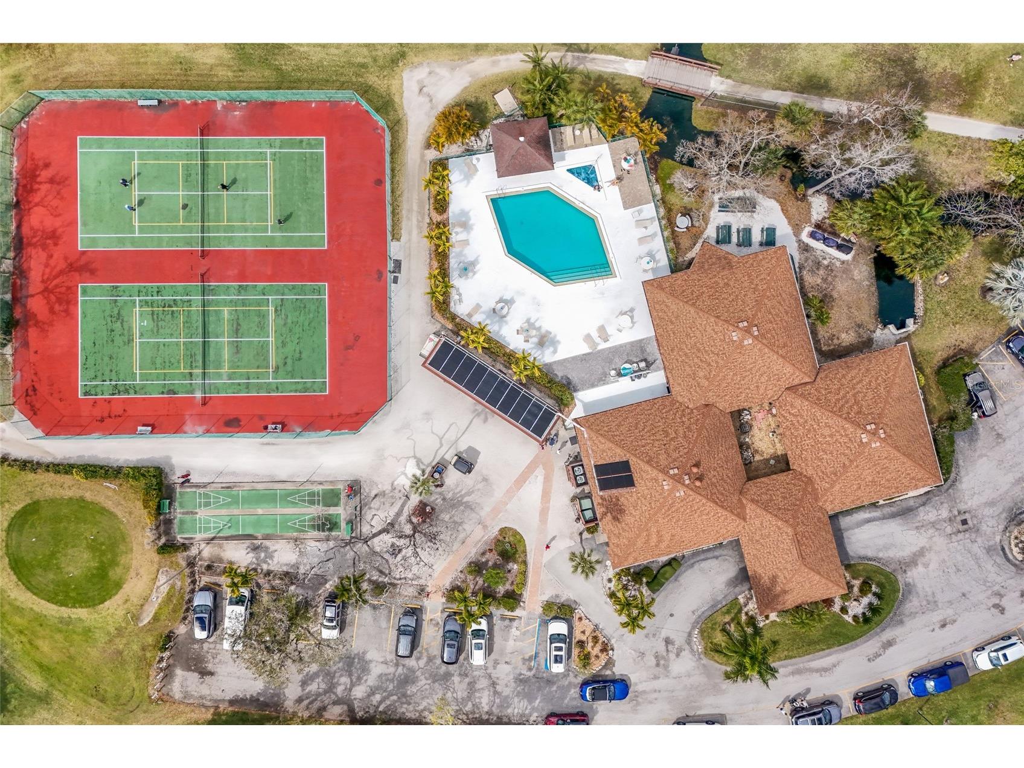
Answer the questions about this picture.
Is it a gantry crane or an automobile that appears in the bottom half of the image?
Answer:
automobile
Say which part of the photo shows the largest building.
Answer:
right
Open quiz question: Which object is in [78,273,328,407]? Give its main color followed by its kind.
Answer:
green tennis court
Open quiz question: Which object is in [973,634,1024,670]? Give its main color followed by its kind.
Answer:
white car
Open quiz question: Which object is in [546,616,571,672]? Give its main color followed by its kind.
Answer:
white car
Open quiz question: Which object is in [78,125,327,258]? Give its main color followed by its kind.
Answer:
green tennis court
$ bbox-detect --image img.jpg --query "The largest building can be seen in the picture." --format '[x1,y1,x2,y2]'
[558,241,944,616]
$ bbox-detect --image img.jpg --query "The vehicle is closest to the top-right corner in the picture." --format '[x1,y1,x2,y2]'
[1001,329,1024,374]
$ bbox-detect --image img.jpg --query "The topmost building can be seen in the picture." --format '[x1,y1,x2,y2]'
[490,117,554,180]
